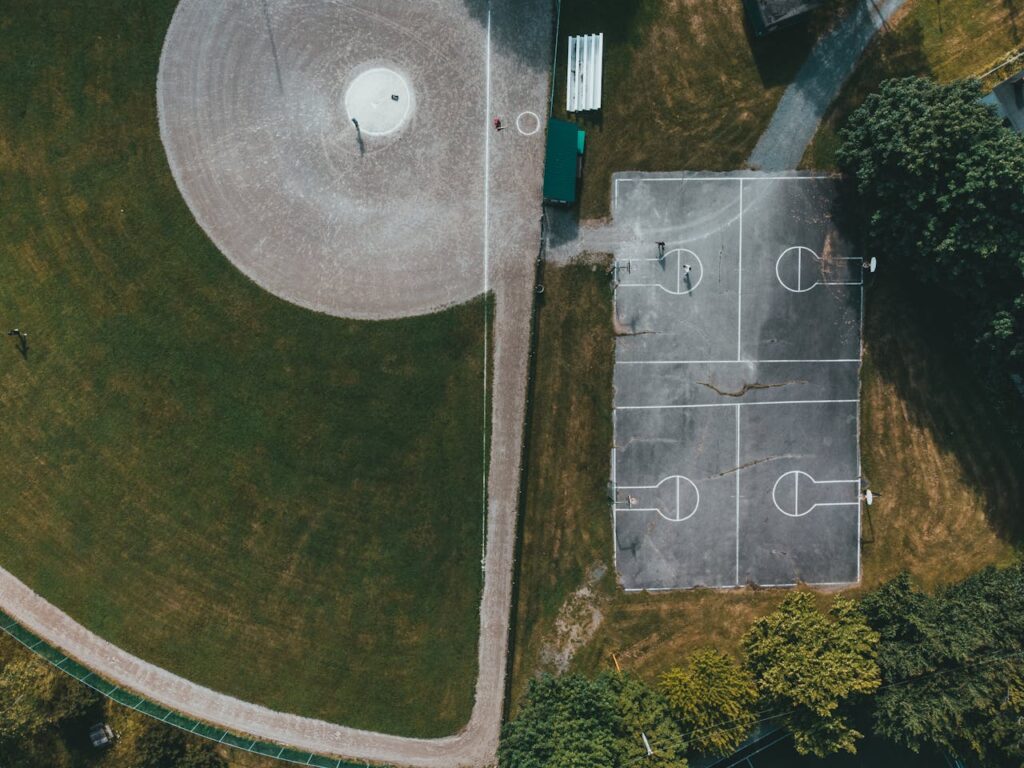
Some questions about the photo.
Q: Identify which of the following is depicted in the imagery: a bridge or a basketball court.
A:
basketball court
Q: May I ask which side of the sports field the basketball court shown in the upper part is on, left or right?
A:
on its right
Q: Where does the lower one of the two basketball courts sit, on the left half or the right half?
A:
right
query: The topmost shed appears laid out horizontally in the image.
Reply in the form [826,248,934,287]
[741,0,830,38]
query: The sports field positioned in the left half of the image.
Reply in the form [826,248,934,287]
[0,0,540,741]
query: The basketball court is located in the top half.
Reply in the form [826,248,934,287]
[614,176,863,363]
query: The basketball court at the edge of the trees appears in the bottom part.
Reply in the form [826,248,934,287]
[612,400,860,591]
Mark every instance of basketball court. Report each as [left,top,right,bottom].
[614,176,863,363]
[612,400,860,591]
